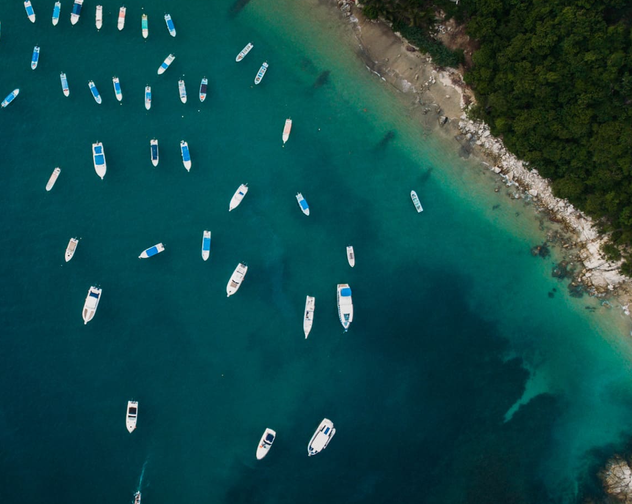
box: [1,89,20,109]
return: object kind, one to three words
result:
boat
